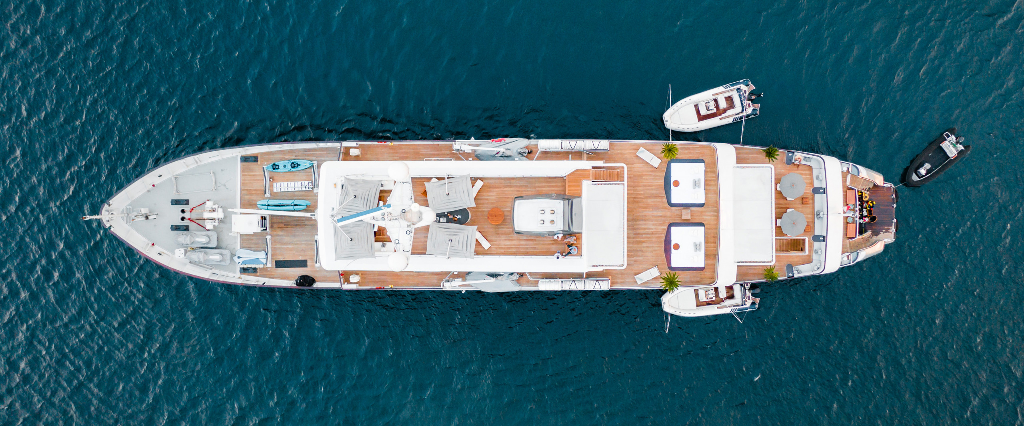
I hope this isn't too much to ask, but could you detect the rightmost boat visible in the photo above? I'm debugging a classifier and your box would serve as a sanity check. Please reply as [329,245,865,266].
[904,129,970,188]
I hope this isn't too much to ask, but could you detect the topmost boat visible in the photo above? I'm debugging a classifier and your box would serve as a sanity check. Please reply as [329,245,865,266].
[662,78,764,132]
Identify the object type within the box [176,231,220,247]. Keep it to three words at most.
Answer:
boat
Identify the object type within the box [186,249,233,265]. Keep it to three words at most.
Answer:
boat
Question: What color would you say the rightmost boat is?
black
